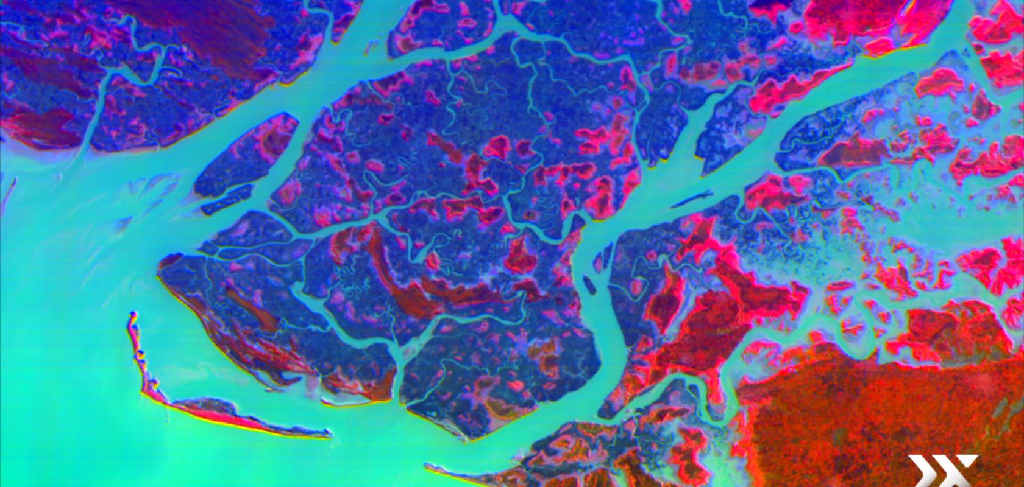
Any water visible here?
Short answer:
Yes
